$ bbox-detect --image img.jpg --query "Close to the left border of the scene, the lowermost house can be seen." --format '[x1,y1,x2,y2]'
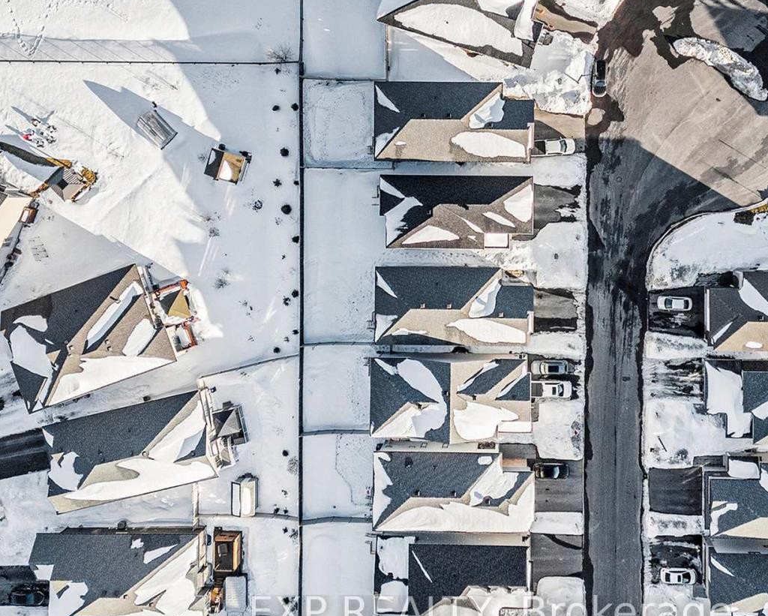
[36,526,210,616]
